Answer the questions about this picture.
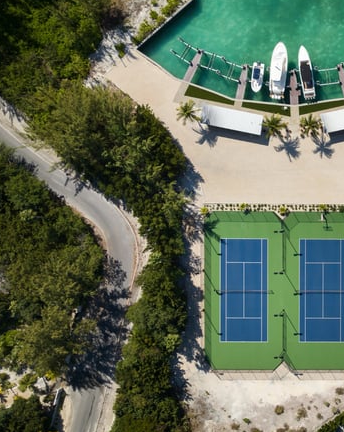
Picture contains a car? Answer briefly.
No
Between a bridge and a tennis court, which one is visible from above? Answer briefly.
tennis court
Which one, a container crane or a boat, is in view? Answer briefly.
boat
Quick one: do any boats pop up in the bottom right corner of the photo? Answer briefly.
No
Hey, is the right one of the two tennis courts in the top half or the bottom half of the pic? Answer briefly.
bottom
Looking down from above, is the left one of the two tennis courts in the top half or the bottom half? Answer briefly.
bottom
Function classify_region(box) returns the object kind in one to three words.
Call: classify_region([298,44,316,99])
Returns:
boat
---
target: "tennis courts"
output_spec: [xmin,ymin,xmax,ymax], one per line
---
[204,212,284,370]
[284,212,344,370]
